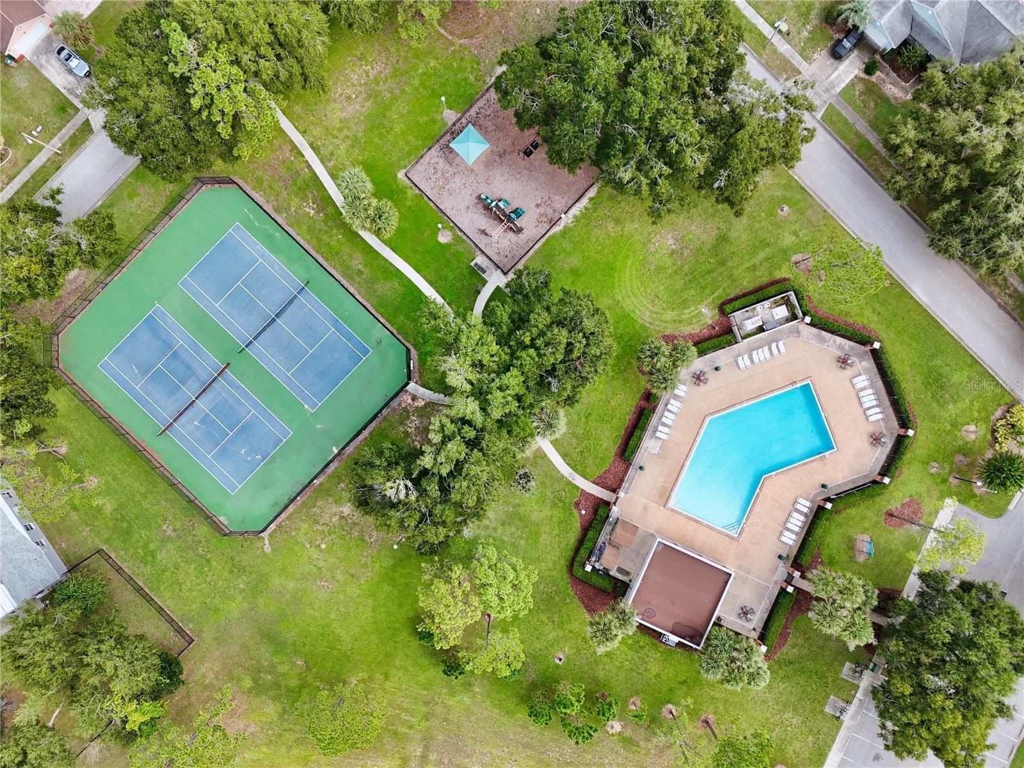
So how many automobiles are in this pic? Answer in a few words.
2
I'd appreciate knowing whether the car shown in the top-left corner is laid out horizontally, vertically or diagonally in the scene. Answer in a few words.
diagonally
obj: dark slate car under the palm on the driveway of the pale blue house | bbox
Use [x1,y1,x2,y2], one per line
[830,27,866,63]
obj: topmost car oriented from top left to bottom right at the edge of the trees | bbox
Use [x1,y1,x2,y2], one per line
[55,44,93,79]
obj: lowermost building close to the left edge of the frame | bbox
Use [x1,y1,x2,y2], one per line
[0,473,67,625]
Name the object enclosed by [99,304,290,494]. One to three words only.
tennis court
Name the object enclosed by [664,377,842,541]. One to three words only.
swimming pool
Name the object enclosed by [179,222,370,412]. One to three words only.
tennis court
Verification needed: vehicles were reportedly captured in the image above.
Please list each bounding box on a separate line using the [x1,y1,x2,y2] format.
[55,44,93,79]
[830,27,866,63]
